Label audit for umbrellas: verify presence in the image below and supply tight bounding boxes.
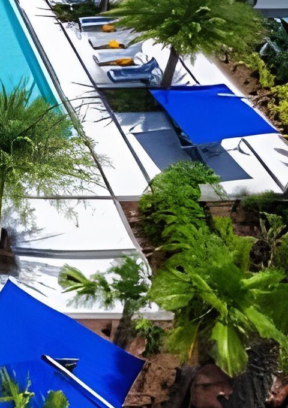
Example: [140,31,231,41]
[150,83,278,167]
[0,278,144,408]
